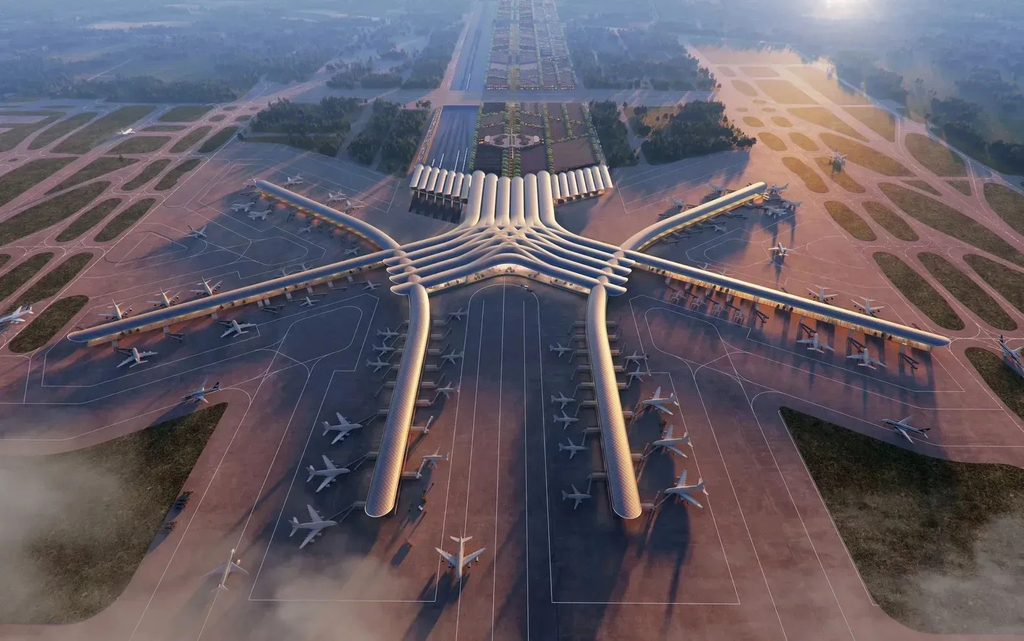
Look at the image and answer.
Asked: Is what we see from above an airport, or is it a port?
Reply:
airport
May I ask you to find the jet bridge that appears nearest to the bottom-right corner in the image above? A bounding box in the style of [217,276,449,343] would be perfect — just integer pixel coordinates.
[901,342,920,367]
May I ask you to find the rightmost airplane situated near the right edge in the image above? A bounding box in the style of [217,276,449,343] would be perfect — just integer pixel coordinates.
[991,339,1024,367]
